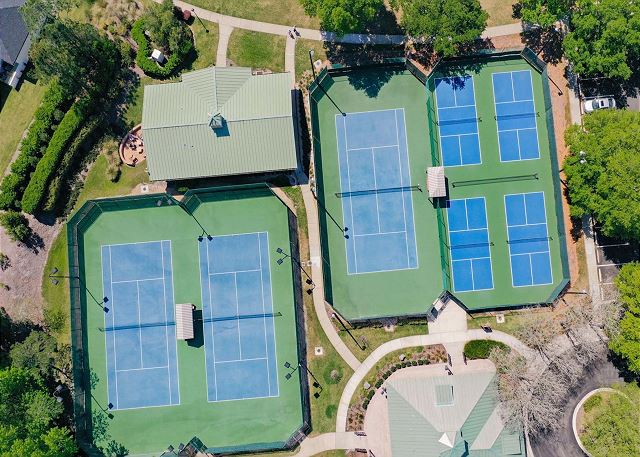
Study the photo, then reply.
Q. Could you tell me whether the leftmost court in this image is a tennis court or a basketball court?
tennis court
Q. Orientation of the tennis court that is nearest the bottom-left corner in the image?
from top to bottom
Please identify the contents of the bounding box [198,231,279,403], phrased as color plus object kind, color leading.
blue tennis court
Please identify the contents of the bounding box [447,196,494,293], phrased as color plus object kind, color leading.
blue sports court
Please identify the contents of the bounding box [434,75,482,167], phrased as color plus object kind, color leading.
blue sports court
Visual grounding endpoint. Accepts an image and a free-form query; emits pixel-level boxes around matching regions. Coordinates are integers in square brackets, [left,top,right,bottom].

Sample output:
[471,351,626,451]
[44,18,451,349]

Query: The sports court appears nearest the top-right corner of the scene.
[492,69,540,162]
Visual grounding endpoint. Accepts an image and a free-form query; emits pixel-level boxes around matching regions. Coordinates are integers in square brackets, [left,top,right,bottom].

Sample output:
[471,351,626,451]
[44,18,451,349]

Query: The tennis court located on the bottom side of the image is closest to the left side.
[101,239,179,411]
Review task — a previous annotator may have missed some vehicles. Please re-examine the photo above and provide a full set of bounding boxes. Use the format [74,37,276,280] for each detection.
[585,97,618,113]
